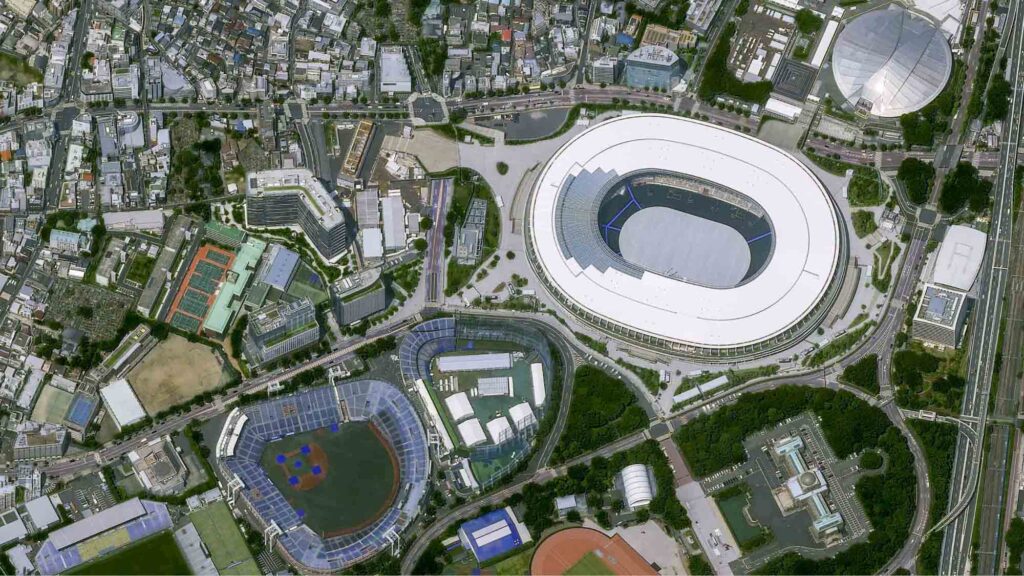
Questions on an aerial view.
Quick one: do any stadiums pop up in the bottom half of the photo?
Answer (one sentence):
Yes, you'll find a stadium in the bottom half of the photo.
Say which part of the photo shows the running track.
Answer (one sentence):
You can find the running track in the bottom area of the picture.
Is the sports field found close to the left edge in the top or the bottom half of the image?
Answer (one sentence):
It is in the bottom half that the sports field found close to the left edge appears.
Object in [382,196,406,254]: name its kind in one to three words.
shed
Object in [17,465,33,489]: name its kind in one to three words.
building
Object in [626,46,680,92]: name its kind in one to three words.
building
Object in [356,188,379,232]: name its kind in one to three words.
shed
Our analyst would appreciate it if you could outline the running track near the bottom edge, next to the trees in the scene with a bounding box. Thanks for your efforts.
[529,525,662,576]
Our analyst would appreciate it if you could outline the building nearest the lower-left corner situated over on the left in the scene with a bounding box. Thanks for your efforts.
[5,545,36,576]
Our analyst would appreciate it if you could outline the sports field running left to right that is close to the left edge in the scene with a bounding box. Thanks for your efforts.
[38,498,220,576]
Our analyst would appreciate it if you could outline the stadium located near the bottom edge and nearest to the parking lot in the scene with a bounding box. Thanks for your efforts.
[217,379,431,575]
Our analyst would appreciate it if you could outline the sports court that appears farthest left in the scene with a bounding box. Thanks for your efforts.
[62,393,99,432]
